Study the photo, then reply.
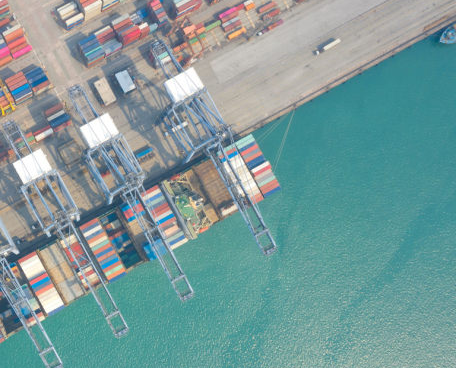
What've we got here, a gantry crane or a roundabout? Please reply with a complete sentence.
Looking from above, you can make out a gantry crane.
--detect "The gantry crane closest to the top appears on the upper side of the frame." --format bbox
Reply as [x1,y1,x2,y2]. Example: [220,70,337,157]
[169,8,206,62]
